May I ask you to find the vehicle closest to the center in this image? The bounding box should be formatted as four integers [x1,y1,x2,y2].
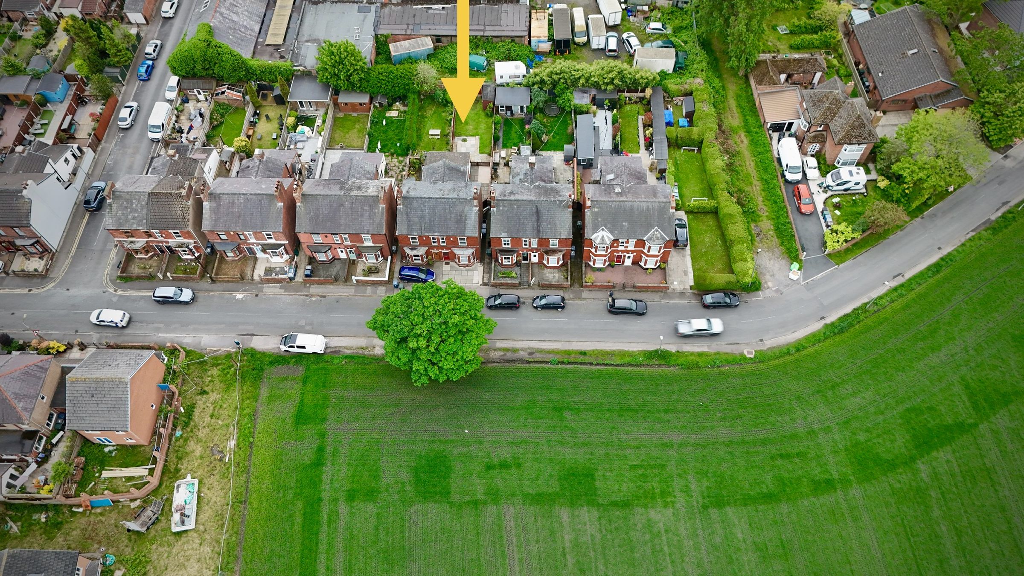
[485,290,521,310]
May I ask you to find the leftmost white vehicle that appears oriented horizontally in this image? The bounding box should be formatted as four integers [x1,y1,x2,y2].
[83,306,131,327]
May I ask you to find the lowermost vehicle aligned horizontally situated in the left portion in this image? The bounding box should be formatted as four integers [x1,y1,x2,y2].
[275,329,328,354]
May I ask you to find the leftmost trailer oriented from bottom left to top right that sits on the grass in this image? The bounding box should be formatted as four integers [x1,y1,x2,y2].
[118,485,167,539]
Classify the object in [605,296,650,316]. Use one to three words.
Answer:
car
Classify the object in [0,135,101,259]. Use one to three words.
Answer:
house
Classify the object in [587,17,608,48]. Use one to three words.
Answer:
truck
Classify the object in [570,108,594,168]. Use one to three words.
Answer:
shed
